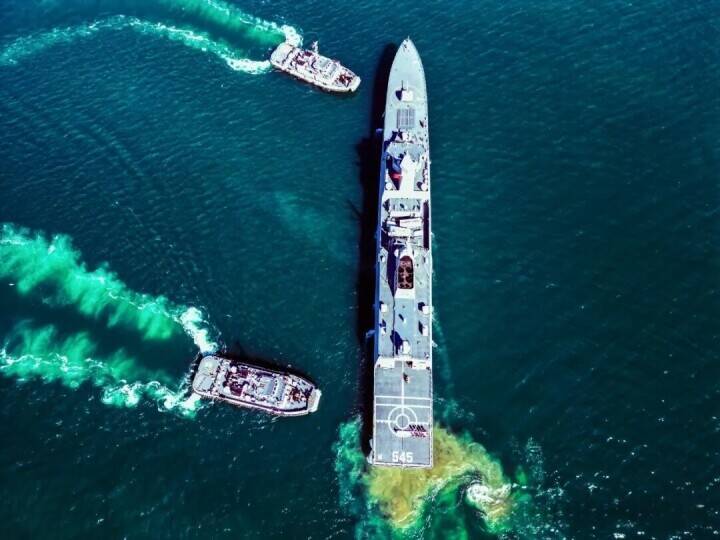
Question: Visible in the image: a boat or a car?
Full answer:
This aerial view contains a boat.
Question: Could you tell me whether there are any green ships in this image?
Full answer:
No, I can't see a single green ship in this photo.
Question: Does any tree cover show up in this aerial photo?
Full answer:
No, no tree cover is visible.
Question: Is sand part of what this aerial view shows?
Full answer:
No, the picture contains no sand.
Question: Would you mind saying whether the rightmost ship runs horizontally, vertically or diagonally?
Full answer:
Seen from above, the rightmost ship lies vertically.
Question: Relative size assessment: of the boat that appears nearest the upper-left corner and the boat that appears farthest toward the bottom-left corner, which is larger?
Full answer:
Of the two, the boat that appears farthest toward the bottom-left corner is bigger, while the boat that appears nearest the upper-left corner is smaller.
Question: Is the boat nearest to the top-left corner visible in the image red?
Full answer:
No, the boat nearest to the top-left corner is actually white.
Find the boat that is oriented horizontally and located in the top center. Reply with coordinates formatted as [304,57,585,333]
[271,46,362,91]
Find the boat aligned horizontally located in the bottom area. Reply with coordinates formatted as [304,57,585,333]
[193,357,321,413]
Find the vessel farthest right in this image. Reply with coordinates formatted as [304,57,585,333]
[367,34,437,469]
